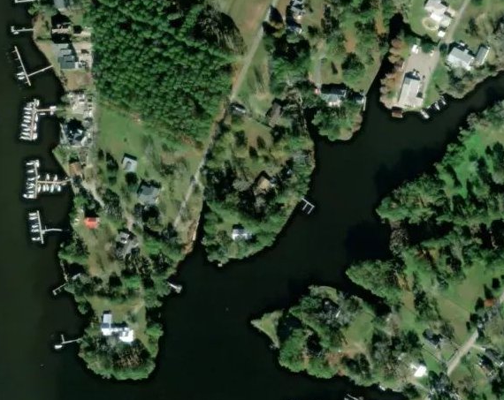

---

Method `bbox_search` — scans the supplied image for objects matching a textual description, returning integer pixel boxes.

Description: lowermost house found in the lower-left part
[101,309,135,343]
